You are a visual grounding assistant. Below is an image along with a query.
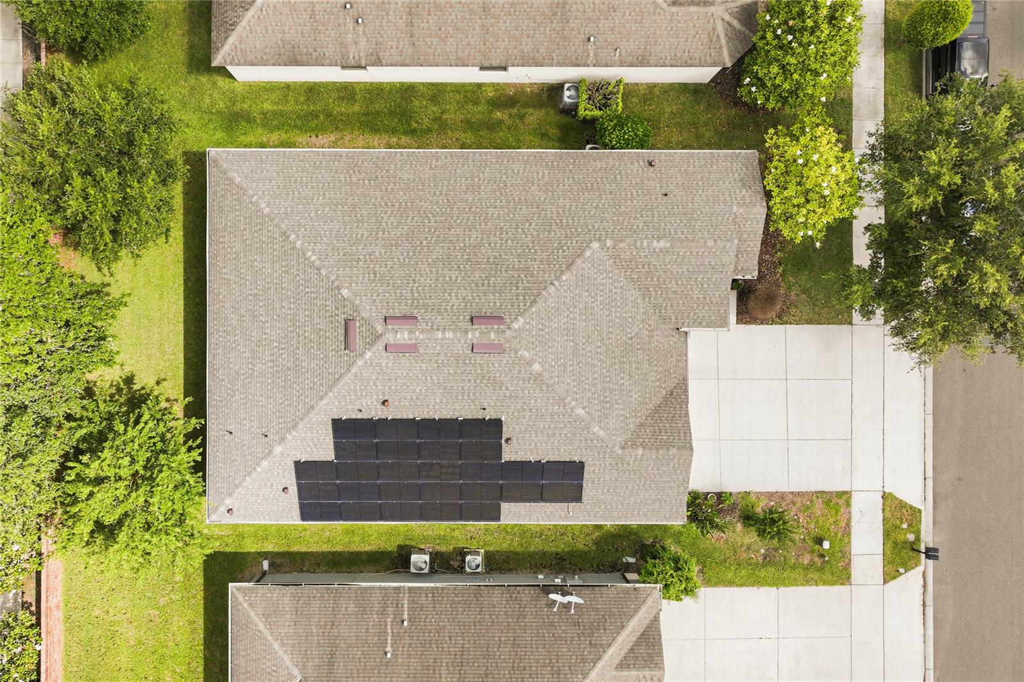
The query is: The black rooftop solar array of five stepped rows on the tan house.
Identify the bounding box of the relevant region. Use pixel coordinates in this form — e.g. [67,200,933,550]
[295,417,584,522]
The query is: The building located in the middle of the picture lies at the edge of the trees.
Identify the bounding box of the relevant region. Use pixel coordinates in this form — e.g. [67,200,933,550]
[205,148,767,525]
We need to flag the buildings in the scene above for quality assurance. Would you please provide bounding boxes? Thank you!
[205,148,767,525]
[228,574,664,682]
[209,0,756,82]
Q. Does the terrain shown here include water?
No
